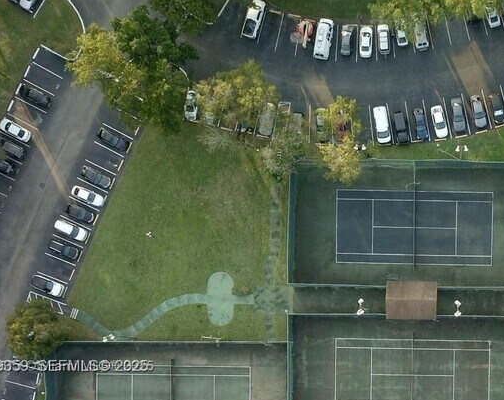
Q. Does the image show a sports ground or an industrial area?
sports ground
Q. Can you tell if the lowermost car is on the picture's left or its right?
left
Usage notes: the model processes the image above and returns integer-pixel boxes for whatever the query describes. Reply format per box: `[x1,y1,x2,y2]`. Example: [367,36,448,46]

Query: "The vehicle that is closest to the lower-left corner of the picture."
[32,276,65,296]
